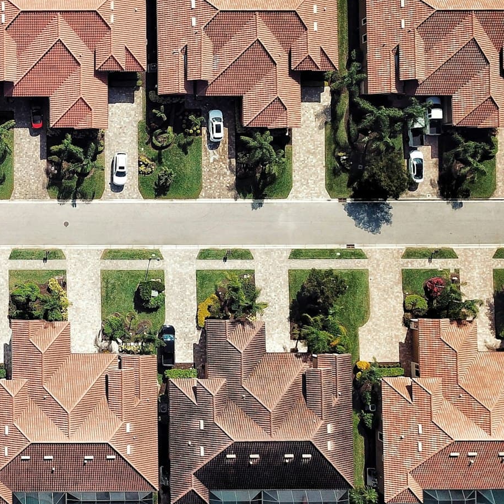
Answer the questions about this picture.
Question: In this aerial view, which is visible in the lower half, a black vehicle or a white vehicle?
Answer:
black vehicle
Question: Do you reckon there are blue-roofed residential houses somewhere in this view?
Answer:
No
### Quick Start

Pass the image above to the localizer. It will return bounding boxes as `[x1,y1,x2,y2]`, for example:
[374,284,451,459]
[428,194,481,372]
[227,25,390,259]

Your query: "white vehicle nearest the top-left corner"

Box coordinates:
[112,152,128,185]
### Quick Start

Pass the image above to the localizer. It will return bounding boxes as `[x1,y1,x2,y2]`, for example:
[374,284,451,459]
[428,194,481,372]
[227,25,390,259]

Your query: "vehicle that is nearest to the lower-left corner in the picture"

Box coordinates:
[160,323,177,366]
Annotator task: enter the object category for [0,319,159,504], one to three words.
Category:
house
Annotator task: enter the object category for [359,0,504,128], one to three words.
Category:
house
